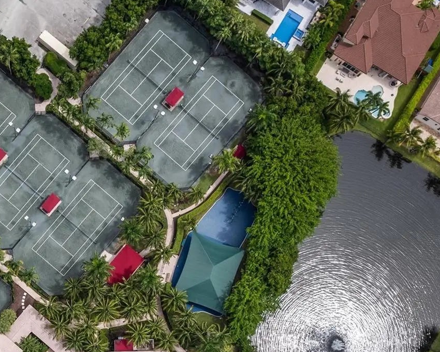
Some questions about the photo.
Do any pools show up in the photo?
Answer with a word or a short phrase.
Yes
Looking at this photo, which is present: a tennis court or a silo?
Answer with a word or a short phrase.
tennis court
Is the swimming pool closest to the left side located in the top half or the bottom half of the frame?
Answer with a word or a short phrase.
top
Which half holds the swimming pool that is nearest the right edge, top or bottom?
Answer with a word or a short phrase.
top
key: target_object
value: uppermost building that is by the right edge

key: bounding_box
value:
[331,0,440,85]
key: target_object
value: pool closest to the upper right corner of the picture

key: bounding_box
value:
[352,84,391,120]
